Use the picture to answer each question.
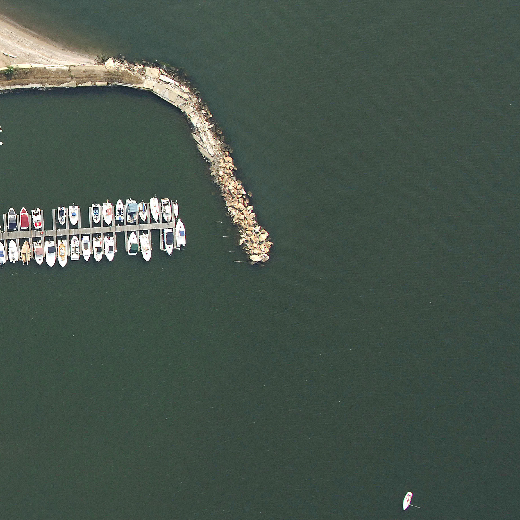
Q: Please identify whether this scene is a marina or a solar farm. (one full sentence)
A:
What you see here is a marina.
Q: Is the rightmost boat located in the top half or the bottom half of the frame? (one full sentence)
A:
The rightmost boat sits in the bottom half of the picture.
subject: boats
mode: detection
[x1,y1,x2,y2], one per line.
[402,492,425,515]
[172,201,179,217]
[45,239,56,267]
[164,229,175,256]
[138,201,147,222]
[19,207,28,229]
[7,207,17,232]
[126,197,137,223]
[0,242,6,266]
[103,201,113,226]
[128,232,138,255]
[70,235,80,260]
[175,218,185,249]
[69,203,78,226]
[8,240,18,265]
[58,237,68,267]
[160,198,172,224]
[91,202,100,223]
[151,198,161,223]
[57,205,65,226]
[139,233,151,261]
[33,239,43,265]
[20,241,31,264]
[115,199,123,223]
[32,207,42,229]
[93,235,102,262]
[104,235,114,261]
[82,236,90,262]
